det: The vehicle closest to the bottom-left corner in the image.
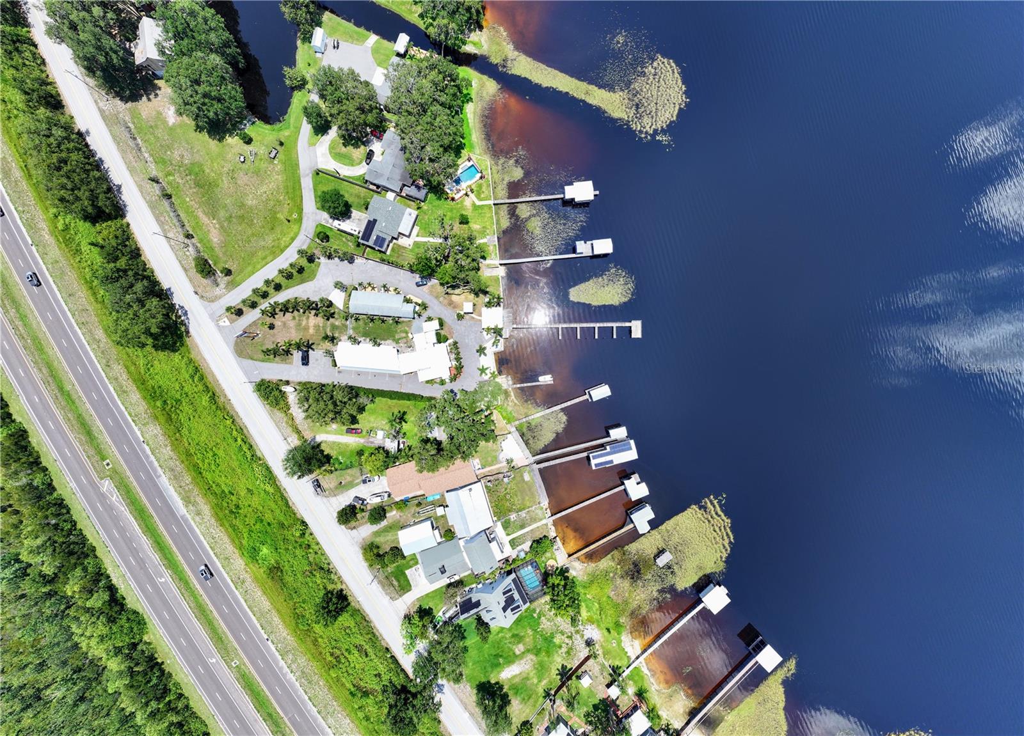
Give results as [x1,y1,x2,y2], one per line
[197,565,210,582]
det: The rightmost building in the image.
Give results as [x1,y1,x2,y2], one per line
[750,635,783,673]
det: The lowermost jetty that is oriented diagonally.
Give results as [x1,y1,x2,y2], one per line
[675,660,758,736]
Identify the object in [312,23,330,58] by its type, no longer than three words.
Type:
barn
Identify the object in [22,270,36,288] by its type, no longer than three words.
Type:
vehicle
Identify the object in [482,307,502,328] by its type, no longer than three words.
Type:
building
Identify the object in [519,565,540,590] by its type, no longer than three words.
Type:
swimming pool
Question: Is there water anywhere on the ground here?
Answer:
Yes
